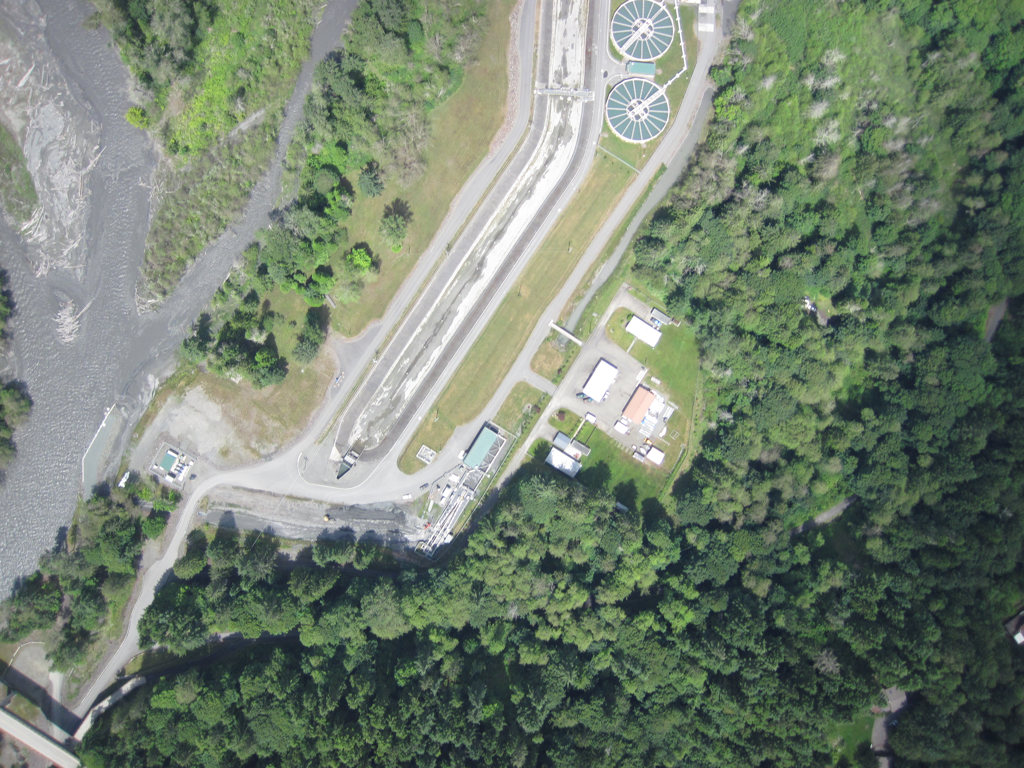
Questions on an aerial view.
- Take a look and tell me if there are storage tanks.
Yes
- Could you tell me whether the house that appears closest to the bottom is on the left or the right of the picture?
right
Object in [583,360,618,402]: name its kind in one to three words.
building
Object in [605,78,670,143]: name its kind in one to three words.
storage tank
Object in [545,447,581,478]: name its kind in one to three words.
house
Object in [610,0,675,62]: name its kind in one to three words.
storage tank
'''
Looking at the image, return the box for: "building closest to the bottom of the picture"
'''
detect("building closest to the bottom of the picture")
[882,682,908,710]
